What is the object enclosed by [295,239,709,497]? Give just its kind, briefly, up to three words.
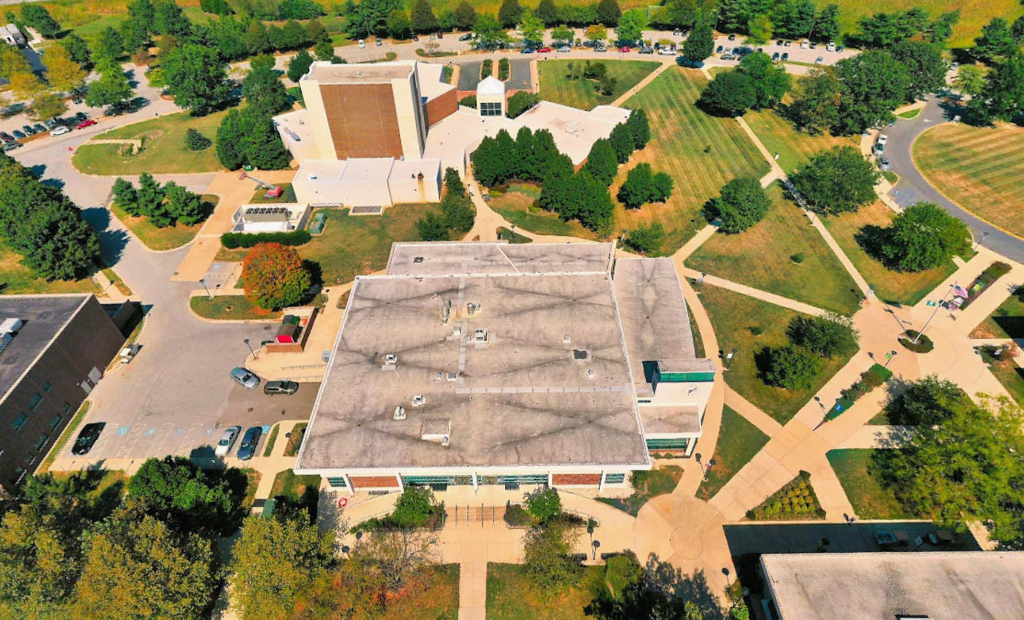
building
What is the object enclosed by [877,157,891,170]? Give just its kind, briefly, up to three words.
vehicle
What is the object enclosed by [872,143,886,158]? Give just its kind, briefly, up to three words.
vehicle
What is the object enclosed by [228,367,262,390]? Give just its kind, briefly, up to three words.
car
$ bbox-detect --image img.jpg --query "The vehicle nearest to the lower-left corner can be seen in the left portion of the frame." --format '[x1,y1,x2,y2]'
[70,419,108,457]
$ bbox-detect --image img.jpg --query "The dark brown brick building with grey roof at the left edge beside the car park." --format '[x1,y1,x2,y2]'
[0,294,140,519]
